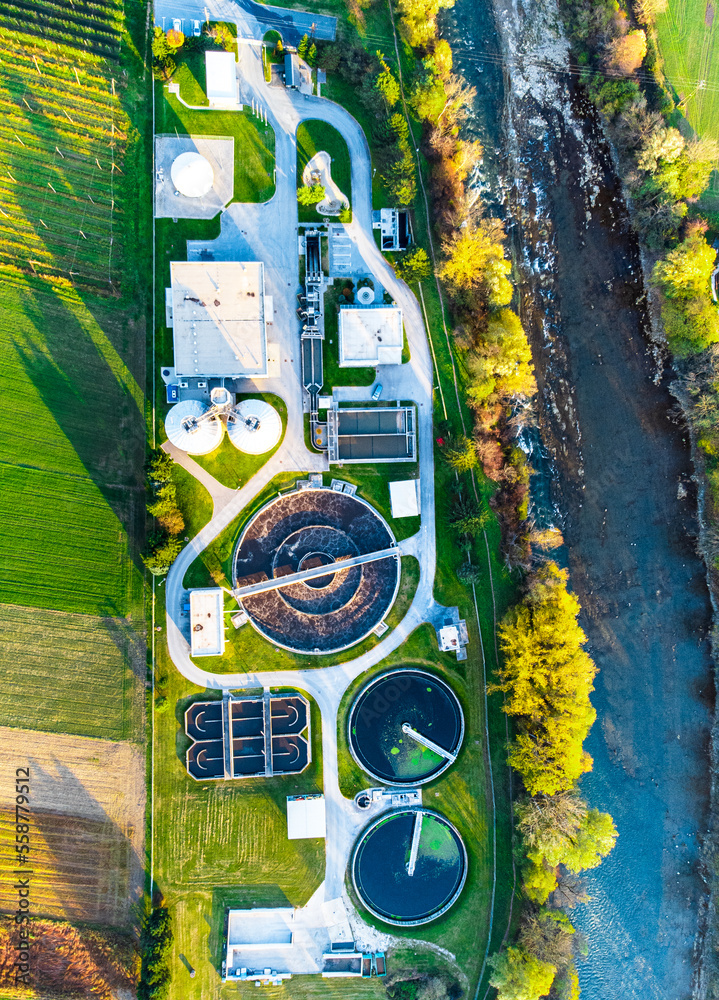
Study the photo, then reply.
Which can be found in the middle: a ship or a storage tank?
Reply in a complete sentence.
Visible in the middle is a storage tank.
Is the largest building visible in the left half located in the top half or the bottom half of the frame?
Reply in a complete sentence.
The largest building visible in the left half is in the top half of the image.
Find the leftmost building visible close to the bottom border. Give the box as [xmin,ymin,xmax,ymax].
[227,906,295,979]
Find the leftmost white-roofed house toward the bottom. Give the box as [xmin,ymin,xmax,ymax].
[190,589,231,656]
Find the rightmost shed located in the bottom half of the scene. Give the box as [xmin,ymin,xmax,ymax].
[439,624,459,651]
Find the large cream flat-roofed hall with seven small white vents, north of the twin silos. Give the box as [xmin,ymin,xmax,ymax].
[166,262,273,381]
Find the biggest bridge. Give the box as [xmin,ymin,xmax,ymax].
[233,545,401,599]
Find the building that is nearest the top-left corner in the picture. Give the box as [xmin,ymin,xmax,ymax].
[205,52,238,104]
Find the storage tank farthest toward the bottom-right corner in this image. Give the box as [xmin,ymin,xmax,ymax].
[353,810,468,926]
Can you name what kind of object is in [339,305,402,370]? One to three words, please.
house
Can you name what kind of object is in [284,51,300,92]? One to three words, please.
building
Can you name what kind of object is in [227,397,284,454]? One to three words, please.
silo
